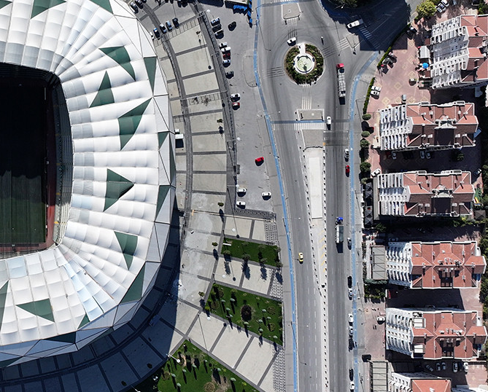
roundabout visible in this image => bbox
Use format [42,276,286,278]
[284,43,325,84]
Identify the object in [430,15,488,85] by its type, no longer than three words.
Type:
building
